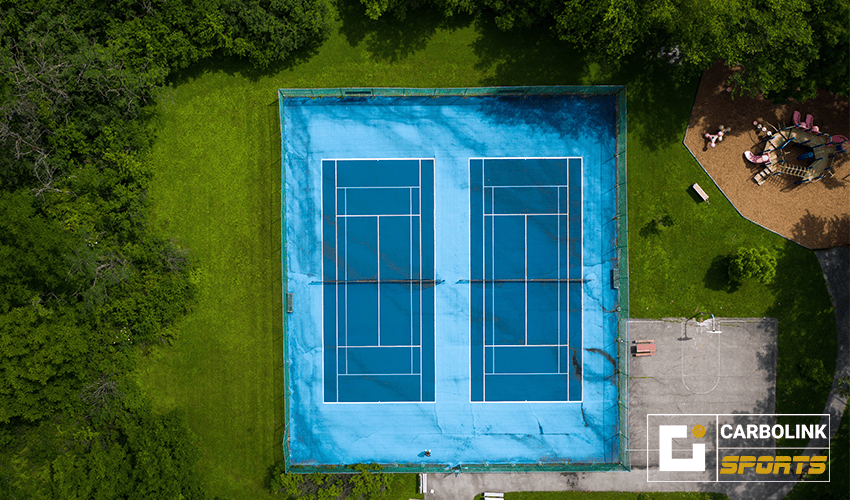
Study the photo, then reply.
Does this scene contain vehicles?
No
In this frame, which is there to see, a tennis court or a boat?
tennis court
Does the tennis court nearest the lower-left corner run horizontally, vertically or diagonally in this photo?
vertically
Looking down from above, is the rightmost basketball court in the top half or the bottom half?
bottom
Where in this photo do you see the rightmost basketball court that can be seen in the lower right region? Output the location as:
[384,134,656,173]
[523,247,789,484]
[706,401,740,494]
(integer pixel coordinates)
[621,318,776,473]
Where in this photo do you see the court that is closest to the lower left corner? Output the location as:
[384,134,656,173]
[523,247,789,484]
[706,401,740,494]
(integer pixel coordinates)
[321,159,436,404]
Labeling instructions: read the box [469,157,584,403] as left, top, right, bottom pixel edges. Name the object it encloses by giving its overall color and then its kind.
blue tennis court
